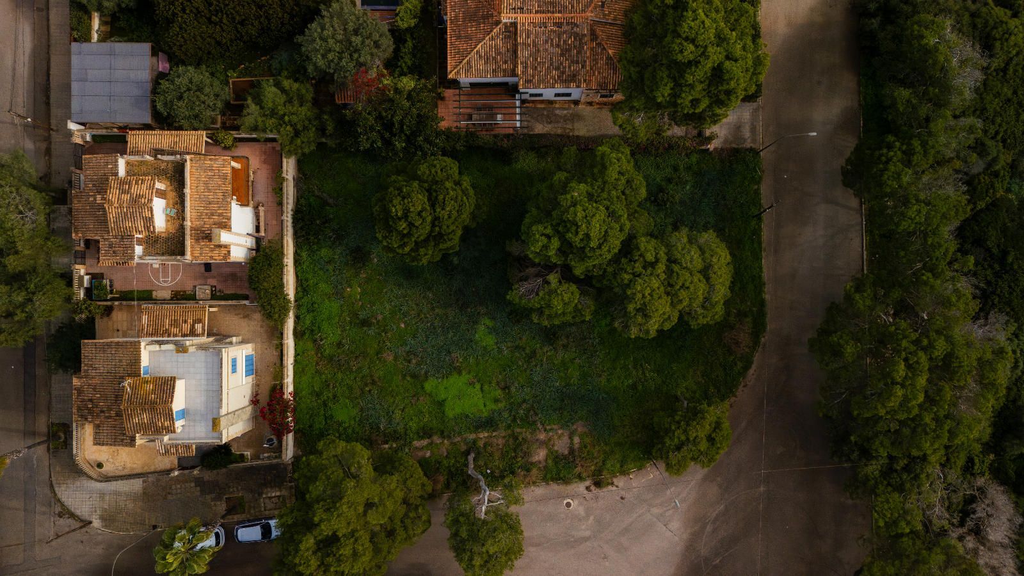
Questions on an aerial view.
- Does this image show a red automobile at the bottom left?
No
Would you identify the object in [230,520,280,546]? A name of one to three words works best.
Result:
car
